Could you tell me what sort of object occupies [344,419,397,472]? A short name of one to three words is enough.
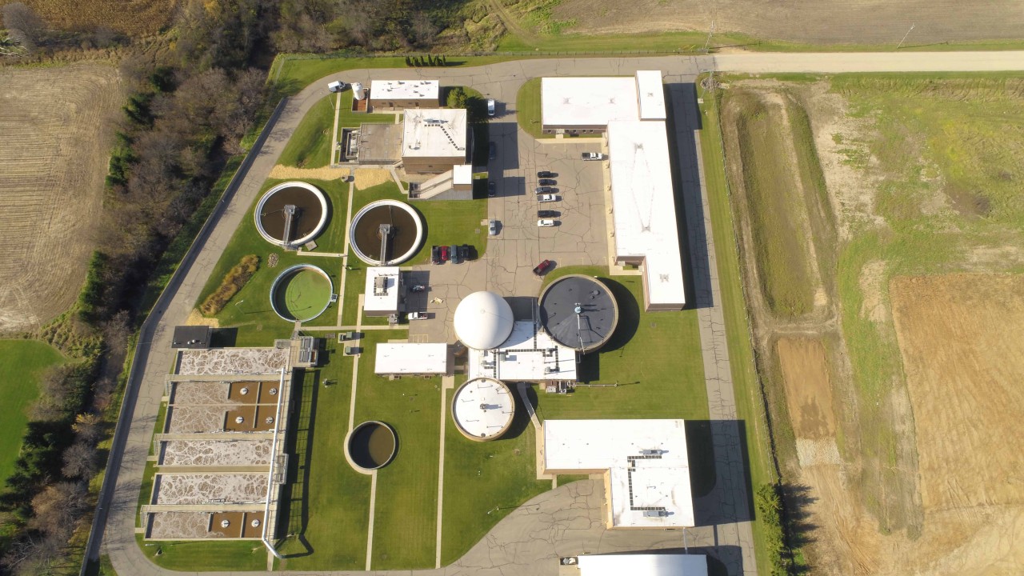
storage tank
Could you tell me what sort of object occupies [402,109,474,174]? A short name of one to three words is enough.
building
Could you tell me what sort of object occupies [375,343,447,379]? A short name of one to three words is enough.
shed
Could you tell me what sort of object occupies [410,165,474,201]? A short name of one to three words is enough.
building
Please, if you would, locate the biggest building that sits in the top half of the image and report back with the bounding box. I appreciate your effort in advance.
[541,70,685,313]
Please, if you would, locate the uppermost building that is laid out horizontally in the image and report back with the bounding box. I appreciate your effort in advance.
[370,80,440,108]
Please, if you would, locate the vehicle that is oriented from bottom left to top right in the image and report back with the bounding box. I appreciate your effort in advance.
[531,257,554,276]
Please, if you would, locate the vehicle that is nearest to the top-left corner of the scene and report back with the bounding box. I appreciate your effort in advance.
[324,79,347,92]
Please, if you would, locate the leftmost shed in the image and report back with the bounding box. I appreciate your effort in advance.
[172,325,213,351]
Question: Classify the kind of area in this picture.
industrial area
